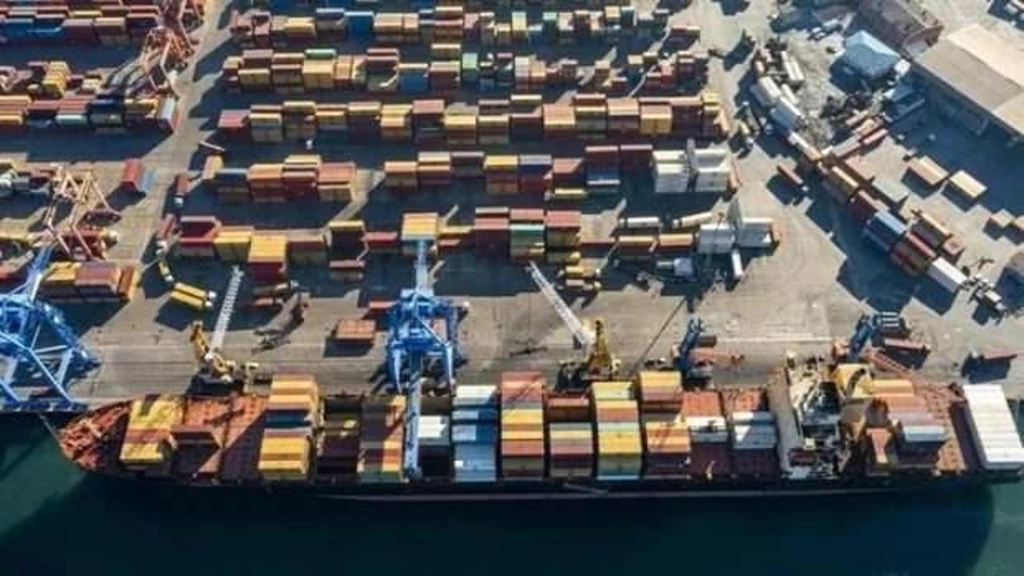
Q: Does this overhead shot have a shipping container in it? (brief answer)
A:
Yes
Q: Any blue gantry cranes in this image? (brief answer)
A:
Yes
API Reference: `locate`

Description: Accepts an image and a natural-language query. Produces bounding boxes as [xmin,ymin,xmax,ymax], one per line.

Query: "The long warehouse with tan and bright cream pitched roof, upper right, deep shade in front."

[904,26,1024,160]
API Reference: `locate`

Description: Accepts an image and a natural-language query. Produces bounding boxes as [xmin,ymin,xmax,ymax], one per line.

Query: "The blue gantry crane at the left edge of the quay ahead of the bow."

[0,230,104,404]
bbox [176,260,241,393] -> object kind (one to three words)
crane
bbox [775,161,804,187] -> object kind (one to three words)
shipping container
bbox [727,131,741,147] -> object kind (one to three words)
vehicle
